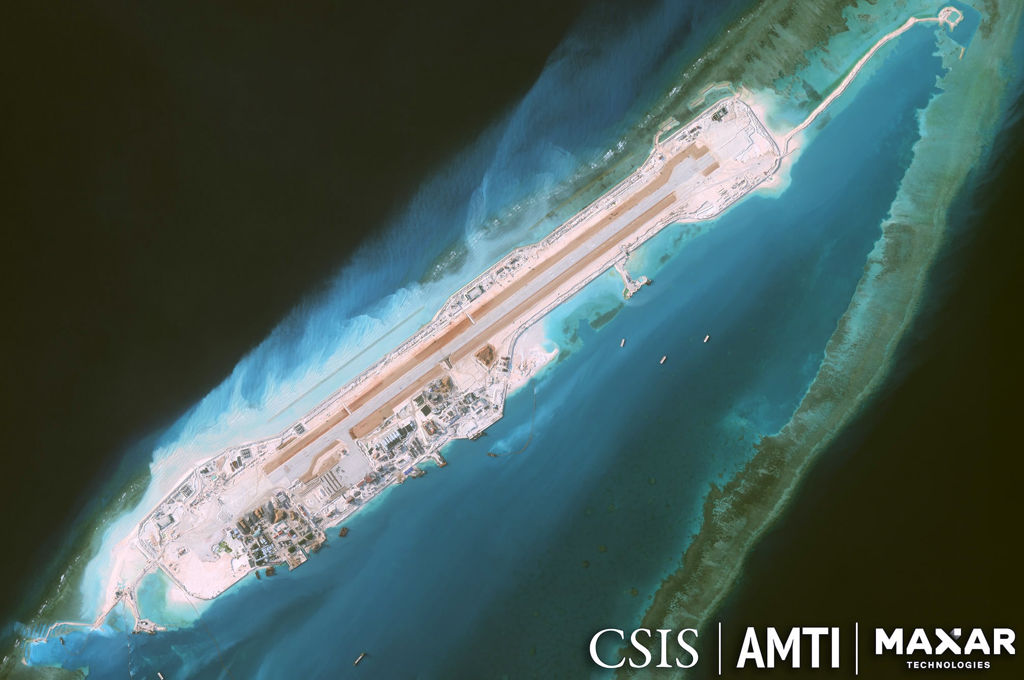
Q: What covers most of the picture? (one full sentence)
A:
Most of the picture is covered by water.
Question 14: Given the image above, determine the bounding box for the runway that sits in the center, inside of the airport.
[266,179,677,487]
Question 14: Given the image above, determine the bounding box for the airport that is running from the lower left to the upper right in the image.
[262,142,720,499]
